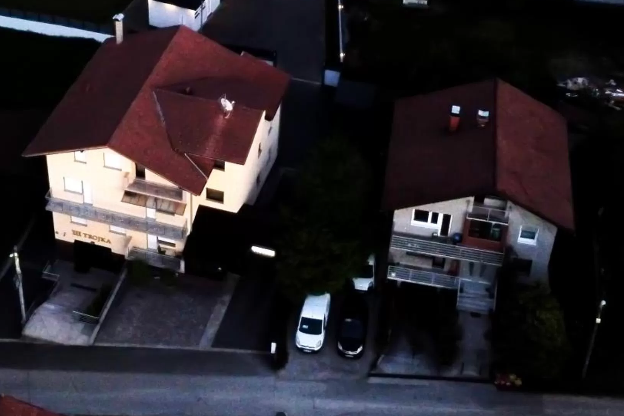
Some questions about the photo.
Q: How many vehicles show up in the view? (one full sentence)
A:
In total, 3 vehicles can be seen.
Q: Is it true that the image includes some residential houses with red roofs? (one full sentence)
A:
Yes, a residential house with a red roof is visible in the scene.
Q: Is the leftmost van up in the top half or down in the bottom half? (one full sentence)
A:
You can find the leftmost van in the bottom half.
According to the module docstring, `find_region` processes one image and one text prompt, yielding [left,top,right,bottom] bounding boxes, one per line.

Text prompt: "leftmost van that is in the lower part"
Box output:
[295,292,331,359]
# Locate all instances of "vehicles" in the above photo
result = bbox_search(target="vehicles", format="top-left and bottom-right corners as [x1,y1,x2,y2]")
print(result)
[295,292,331,359]
[337,308,369,363]
[349,263,384,297]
